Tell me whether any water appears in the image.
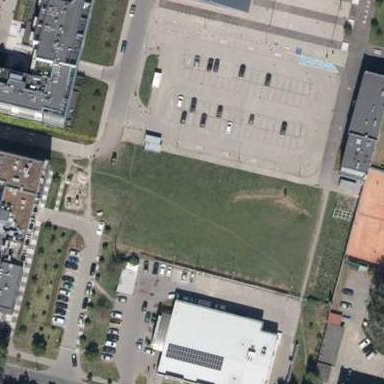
No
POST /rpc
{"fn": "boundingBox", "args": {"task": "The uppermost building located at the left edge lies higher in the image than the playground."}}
[0,0,101,117]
